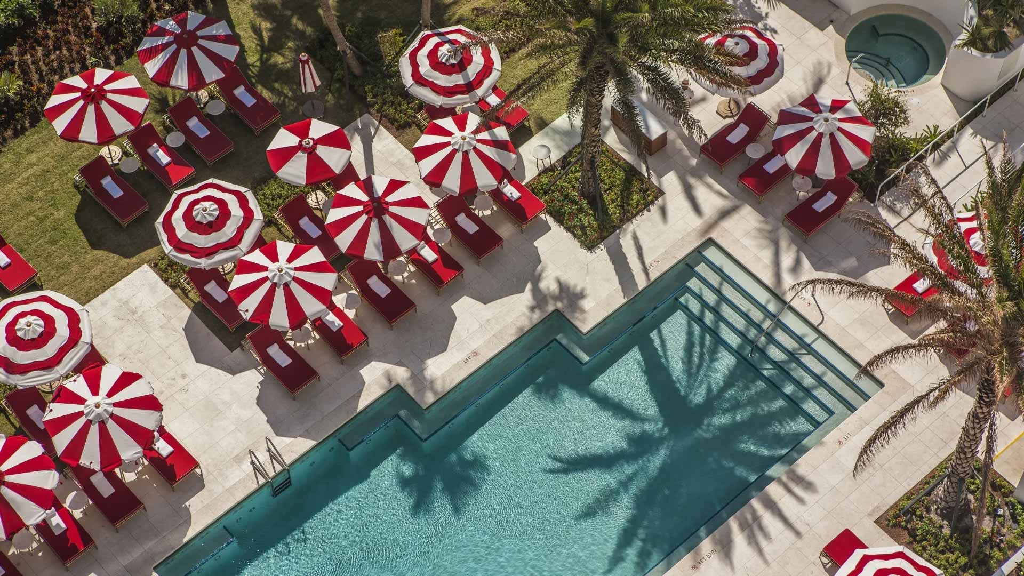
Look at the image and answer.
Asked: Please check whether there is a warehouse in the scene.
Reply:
No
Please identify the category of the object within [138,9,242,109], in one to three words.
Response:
umbrella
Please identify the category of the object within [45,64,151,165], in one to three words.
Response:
umbrella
